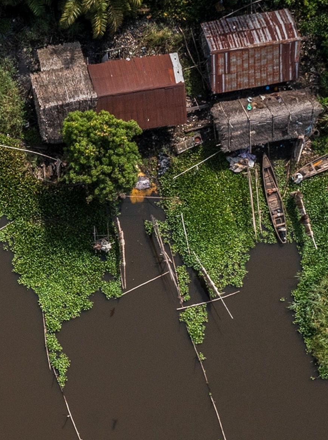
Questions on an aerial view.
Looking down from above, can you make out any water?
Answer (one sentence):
Yes, there is water in the image.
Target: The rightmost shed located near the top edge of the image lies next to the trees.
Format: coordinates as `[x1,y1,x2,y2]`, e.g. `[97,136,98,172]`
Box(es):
[193,8,300,100]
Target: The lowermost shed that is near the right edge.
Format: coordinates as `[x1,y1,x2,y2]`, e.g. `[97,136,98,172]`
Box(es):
[208,88,324,155]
